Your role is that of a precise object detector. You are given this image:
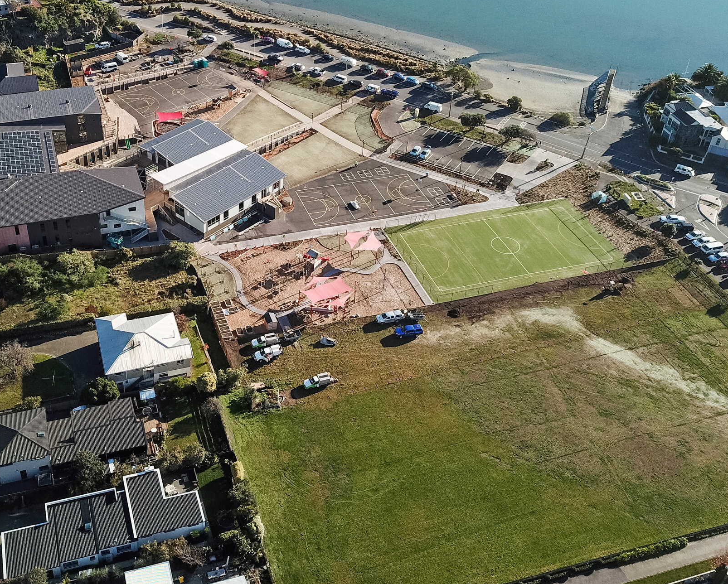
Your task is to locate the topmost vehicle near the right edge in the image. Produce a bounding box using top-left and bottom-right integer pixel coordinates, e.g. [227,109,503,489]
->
[674,164,695,176]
